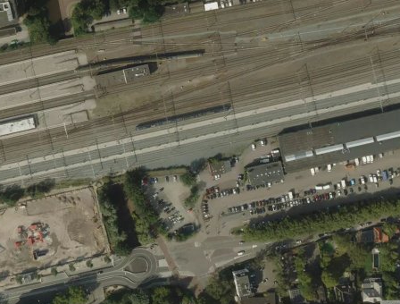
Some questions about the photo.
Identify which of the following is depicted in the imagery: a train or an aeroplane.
train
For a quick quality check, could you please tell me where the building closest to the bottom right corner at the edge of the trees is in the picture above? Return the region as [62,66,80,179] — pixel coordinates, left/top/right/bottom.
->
[362,279,382,302]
